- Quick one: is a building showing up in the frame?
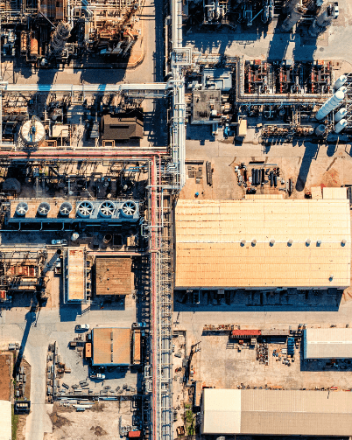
Yes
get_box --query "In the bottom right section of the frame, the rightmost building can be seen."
[301,328,352,363]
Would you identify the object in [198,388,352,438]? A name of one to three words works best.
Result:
building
